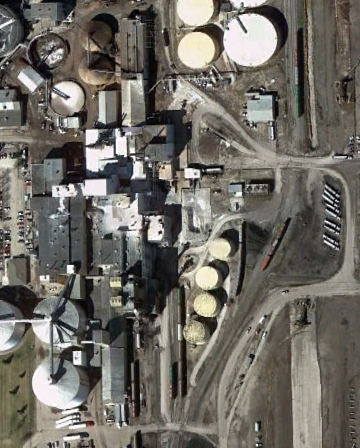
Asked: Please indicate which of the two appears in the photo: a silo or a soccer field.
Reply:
silo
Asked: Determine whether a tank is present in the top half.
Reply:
Yes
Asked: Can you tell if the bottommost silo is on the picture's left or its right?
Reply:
left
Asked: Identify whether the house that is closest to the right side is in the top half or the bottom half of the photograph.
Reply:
top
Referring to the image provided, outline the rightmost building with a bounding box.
[247,94,274,121]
